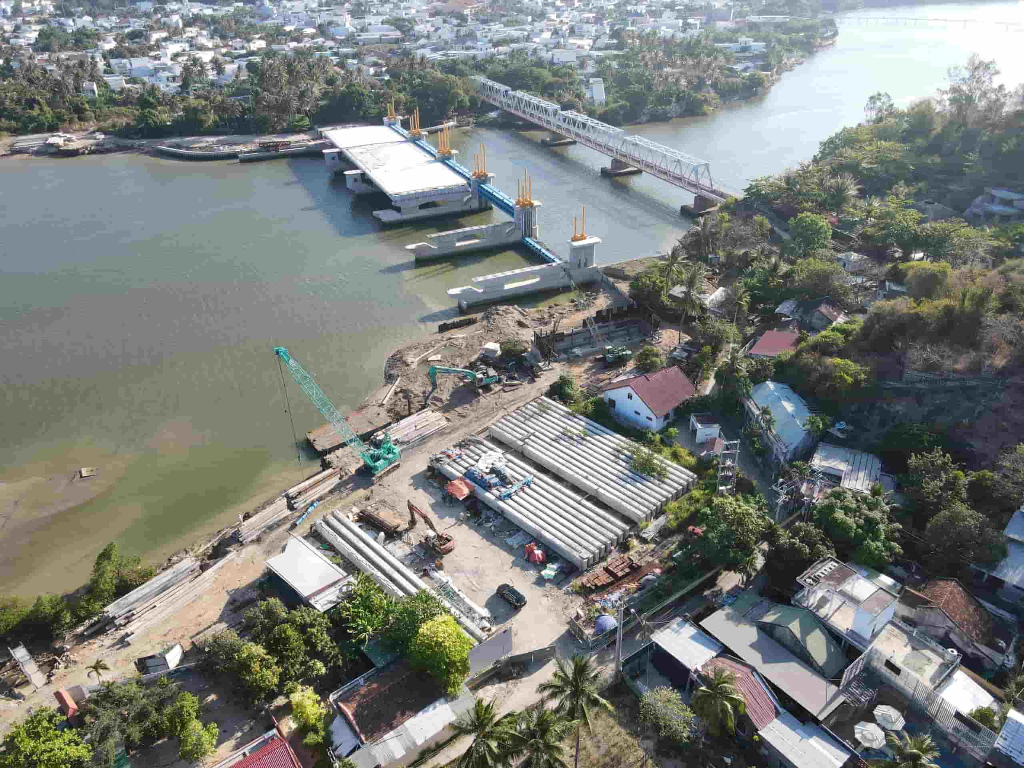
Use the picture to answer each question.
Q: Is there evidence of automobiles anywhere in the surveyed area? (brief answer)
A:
Yes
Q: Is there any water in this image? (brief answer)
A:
Yes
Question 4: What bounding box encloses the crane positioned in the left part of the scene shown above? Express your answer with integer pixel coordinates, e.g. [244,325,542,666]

[272,352,409,488]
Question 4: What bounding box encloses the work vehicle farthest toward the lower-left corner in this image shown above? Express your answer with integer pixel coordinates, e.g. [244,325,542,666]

[409,500,460,558]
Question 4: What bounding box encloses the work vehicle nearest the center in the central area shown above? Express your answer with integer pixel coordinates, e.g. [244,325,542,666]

[434,354,504,389]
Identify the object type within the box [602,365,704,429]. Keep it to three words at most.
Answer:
house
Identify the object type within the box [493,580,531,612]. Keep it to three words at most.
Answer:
car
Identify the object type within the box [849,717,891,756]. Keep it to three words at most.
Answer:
umbrella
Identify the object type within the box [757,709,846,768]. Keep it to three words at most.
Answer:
house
